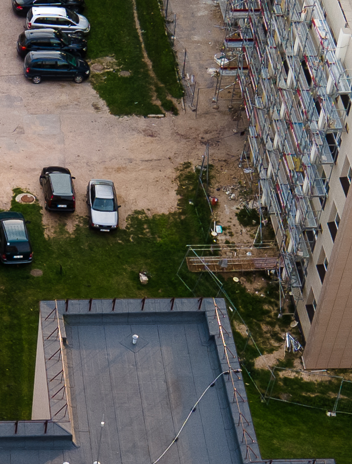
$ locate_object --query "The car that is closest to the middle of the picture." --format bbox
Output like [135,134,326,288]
[79,164,122,226]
